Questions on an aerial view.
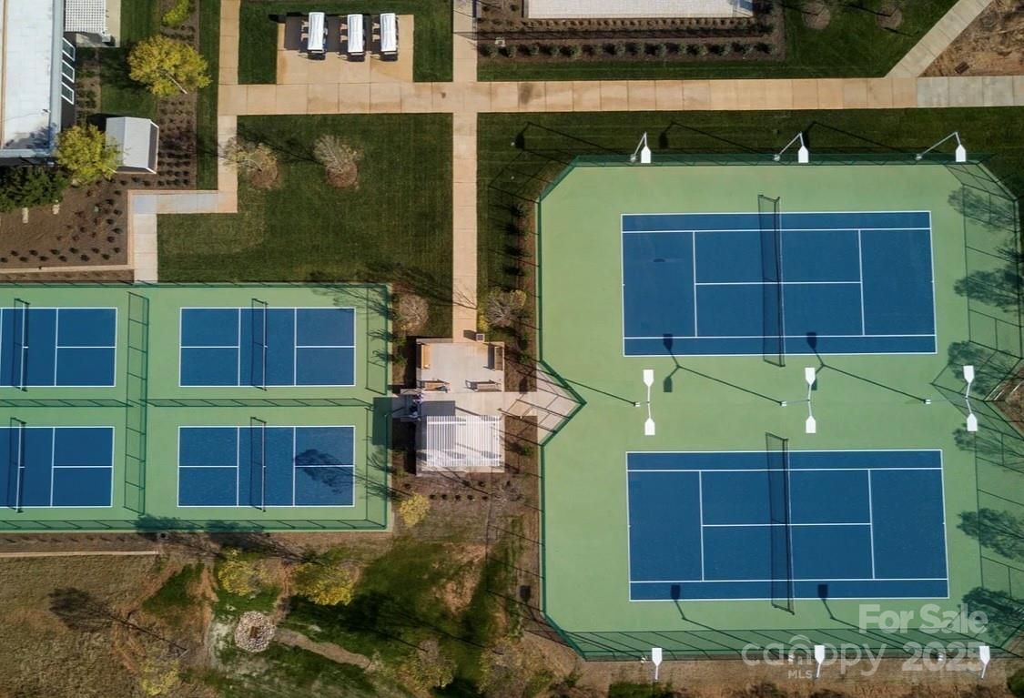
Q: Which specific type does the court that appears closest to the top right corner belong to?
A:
tennis court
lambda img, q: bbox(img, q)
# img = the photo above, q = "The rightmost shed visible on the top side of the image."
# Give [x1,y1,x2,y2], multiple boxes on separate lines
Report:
[107,115,159,173]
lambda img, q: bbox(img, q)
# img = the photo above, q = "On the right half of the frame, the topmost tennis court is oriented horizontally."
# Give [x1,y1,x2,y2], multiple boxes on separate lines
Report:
[622,211,937,356]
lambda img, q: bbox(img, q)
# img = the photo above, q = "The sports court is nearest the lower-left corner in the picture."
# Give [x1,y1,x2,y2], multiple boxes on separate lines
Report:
[0,426,114,508]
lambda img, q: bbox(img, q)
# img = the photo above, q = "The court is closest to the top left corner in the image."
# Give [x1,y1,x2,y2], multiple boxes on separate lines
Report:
[0,308,117,388]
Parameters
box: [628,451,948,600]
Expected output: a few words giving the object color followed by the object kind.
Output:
blue tennis court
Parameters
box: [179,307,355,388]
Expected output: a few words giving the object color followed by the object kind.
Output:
blue sports court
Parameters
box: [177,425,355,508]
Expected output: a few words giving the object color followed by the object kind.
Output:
blue sports court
